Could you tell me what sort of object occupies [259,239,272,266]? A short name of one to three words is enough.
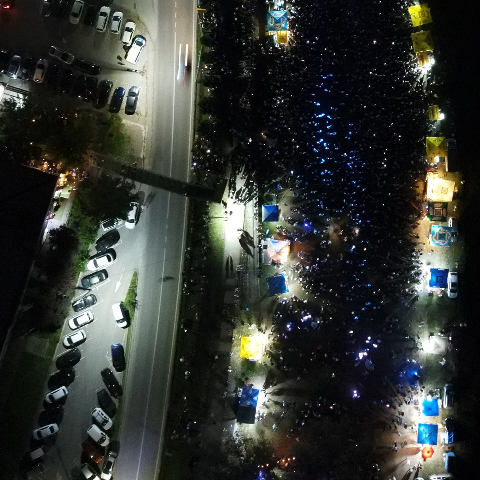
vehicle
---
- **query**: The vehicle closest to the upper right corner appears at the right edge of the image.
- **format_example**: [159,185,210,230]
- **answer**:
[445,138,460,170]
